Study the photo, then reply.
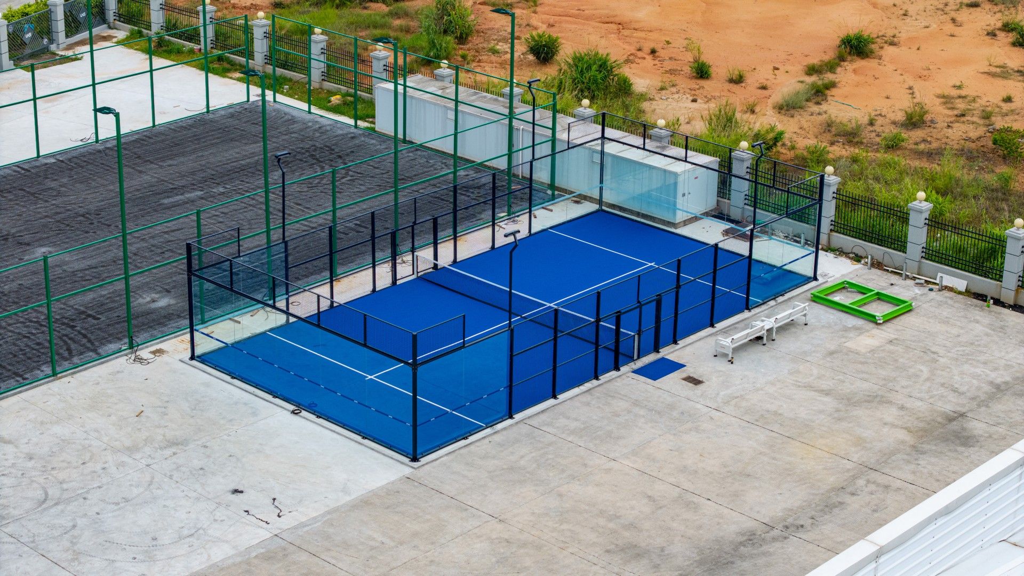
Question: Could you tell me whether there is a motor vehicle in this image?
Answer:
No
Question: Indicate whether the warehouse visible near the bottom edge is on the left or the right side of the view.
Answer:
right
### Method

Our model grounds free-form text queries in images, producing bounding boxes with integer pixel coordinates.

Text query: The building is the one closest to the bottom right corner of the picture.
[803,440,1024,576]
